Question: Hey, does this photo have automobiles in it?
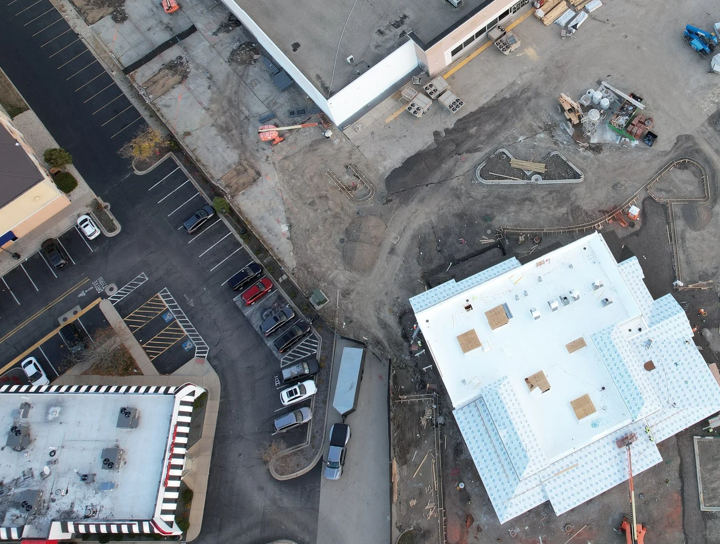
Yes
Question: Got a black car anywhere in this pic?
Yes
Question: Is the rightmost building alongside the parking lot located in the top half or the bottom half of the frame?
bottom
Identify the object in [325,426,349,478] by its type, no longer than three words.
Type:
truck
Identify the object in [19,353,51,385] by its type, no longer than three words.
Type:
car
